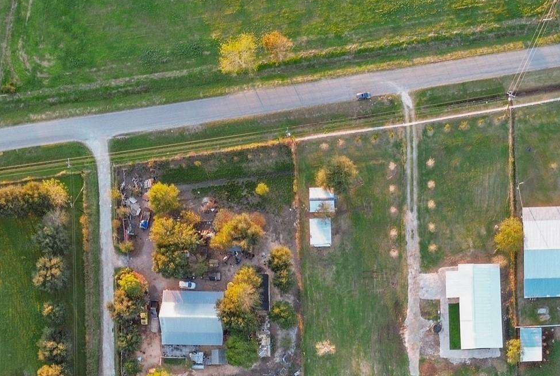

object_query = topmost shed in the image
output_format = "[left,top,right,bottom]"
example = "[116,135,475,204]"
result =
[309,188,336,217]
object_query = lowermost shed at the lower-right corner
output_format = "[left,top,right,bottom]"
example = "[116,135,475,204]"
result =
[521,328,543,361]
